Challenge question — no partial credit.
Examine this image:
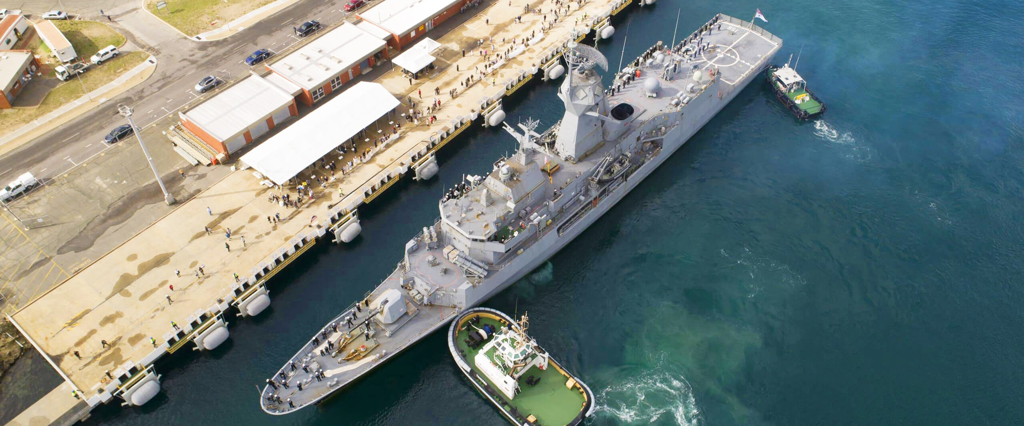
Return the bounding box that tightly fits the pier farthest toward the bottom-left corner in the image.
[5,382,86,426]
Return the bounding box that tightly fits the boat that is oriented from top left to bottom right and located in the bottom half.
[442,303,595,426]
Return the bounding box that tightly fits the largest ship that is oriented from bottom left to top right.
[246,6,783,419]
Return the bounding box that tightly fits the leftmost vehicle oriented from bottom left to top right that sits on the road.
[0,172,33,202]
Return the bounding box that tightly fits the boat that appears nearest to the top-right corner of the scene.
[756,49,828,121]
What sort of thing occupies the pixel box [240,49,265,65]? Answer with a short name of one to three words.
car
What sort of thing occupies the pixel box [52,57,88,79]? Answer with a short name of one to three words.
truck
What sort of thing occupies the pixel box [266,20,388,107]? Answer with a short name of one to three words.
shed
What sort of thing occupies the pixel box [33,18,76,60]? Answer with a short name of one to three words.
building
